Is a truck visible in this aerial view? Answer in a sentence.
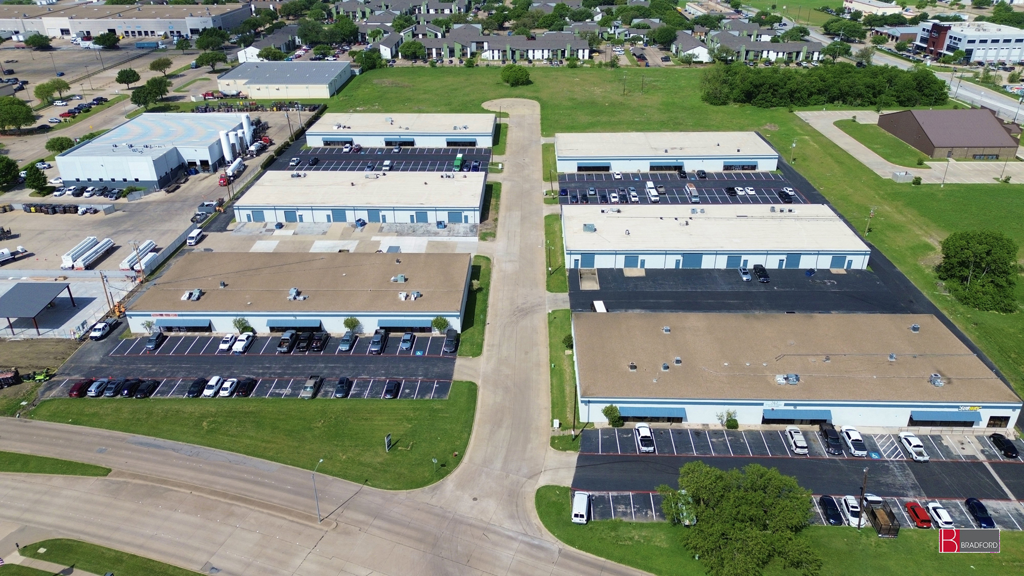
Yes, this view includes a truck.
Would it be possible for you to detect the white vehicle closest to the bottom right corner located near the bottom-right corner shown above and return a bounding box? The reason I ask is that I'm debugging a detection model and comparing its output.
[924,501,959,533]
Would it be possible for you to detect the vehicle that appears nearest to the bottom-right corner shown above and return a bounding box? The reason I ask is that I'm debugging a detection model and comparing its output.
[962,499,997,530]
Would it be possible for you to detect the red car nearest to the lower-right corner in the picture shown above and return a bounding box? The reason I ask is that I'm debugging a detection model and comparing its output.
[902,501,936,533]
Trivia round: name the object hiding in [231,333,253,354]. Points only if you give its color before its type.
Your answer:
white truck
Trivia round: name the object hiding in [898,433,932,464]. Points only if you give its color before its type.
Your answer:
white truck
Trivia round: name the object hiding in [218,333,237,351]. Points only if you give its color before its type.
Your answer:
white car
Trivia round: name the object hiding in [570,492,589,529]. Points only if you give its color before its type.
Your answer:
white vehicle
